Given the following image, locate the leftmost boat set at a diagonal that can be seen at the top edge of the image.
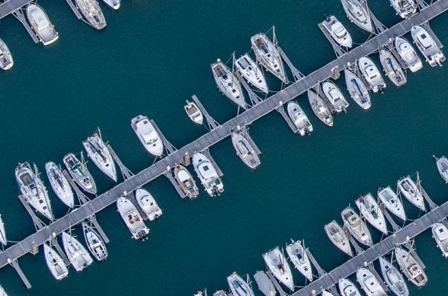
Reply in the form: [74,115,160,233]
[18,0,59,48]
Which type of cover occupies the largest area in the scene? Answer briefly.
water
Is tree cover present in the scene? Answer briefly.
No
